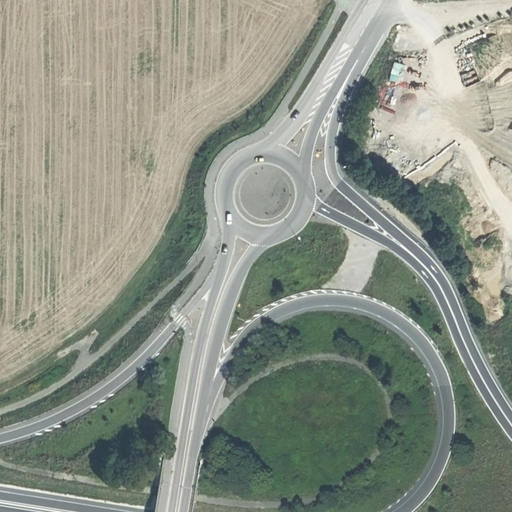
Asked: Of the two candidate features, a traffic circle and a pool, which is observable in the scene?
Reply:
traffic circle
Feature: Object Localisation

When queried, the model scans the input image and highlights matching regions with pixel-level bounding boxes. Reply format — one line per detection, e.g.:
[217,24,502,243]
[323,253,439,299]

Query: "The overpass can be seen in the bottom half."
[154,452,203,512]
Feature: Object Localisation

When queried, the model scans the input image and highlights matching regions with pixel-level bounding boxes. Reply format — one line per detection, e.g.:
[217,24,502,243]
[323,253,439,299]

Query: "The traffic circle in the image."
[214,136,316,262]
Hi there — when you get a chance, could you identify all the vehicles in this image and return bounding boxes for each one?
[255,158,265,163]
[222,245,228,256]
[226,213,232,225]
[290,109,300,120]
